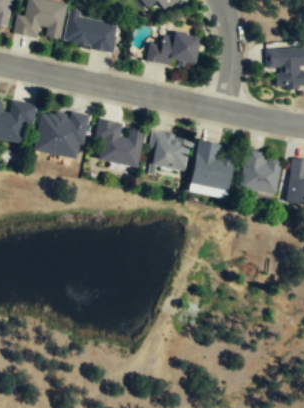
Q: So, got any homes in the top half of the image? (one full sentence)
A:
Yes, a home appears in the top half of the image.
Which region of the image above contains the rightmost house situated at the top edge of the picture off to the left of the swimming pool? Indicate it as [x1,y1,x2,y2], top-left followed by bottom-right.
[64,6,115,54]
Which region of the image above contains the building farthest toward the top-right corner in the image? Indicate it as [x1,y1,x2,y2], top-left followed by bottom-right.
[268,46,304,88]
